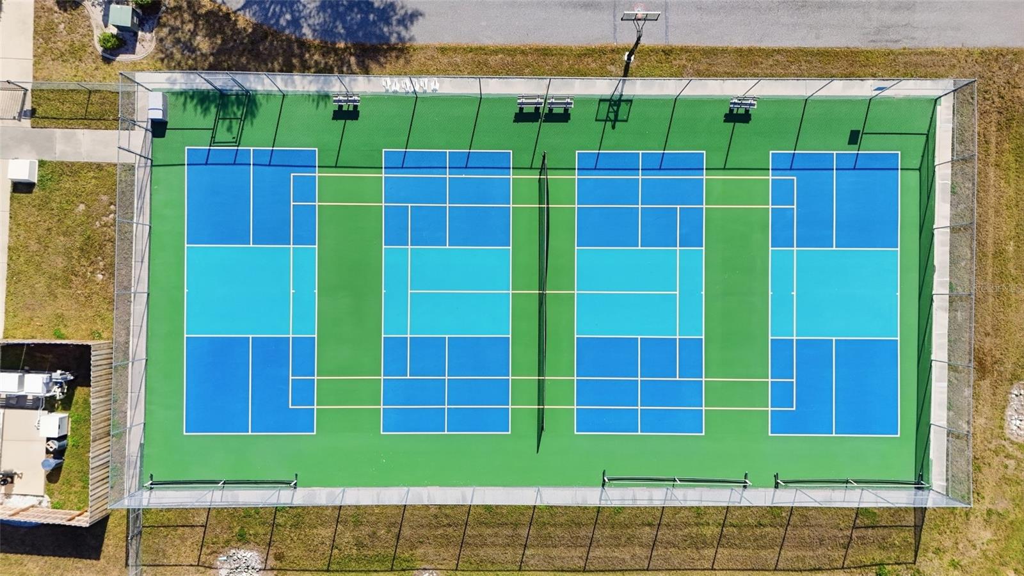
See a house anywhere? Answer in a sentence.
No, I find no house anywhere in the image.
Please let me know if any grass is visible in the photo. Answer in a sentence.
Yes, there's grass in this view.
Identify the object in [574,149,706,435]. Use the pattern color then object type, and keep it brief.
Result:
blue sports court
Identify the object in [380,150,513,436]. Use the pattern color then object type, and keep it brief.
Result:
blue sports court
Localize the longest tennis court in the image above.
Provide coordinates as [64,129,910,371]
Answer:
[144,89,936,488]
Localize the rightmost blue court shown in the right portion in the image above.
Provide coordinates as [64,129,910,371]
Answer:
[770,151,900,436]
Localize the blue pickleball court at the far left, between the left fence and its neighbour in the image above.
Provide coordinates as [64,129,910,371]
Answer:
[184,147,317,434]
